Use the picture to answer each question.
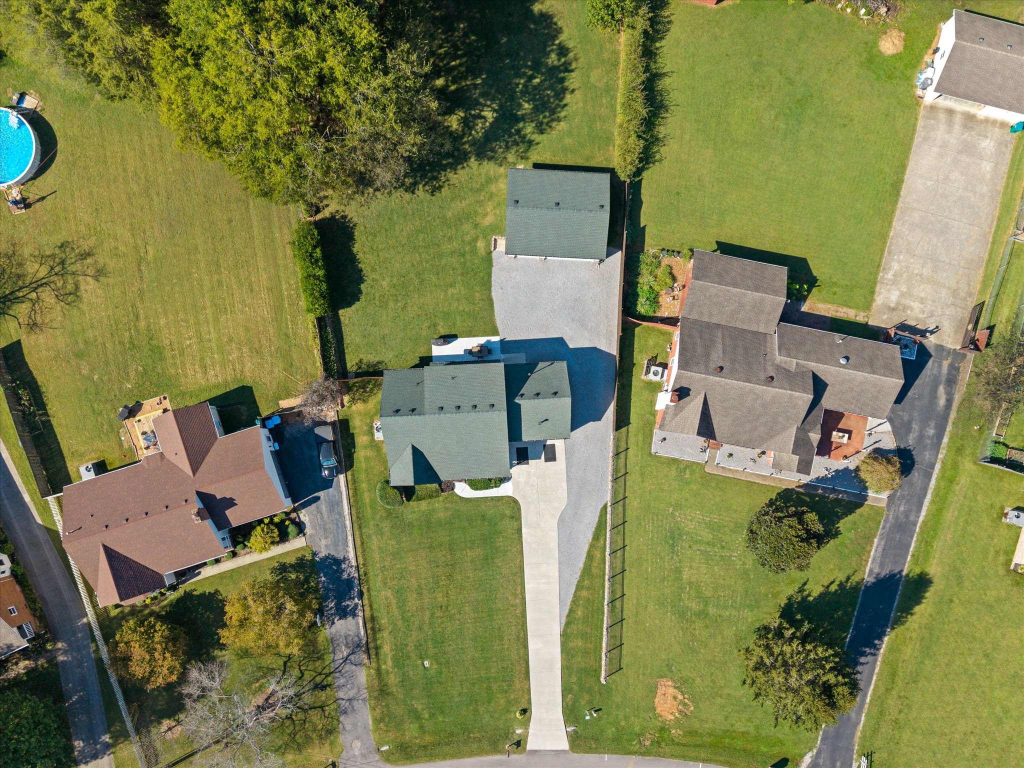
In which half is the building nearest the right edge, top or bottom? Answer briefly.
top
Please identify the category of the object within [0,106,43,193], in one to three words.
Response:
swimming pool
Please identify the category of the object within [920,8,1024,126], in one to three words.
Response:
building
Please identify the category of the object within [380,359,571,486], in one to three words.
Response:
house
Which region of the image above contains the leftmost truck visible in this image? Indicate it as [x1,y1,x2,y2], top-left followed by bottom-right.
[316,426,341,481]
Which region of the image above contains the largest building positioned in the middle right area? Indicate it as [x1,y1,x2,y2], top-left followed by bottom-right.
[651,249,902,476]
